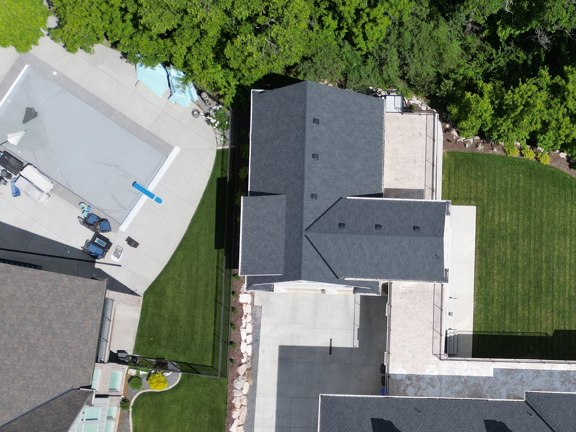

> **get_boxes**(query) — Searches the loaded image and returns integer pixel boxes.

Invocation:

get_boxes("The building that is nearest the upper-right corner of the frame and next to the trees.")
[238,80,453,298]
